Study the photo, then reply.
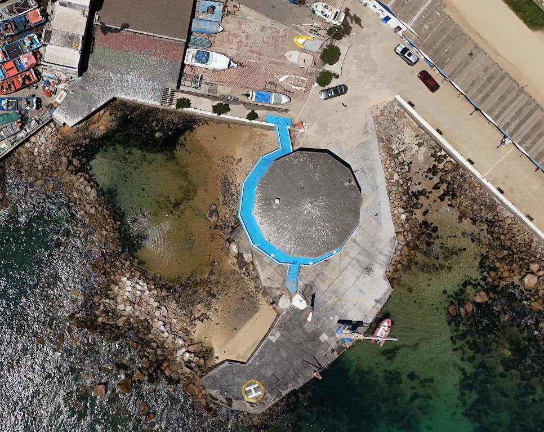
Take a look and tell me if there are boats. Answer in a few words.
Yes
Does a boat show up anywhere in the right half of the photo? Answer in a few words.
Yes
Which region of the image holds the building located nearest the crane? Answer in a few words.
center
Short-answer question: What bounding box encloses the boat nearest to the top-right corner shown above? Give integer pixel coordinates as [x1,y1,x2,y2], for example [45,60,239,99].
[313,1,345,26]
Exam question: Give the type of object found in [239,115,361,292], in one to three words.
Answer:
building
